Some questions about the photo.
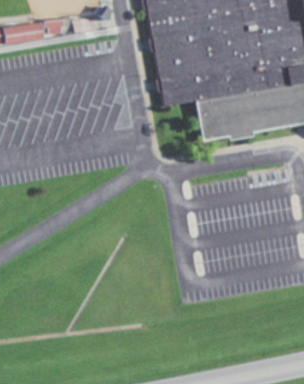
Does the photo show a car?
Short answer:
No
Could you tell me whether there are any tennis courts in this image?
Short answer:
No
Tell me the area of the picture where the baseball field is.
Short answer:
top left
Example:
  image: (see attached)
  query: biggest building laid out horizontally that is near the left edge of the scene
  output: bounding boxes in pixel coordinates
[2,22,44,44]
